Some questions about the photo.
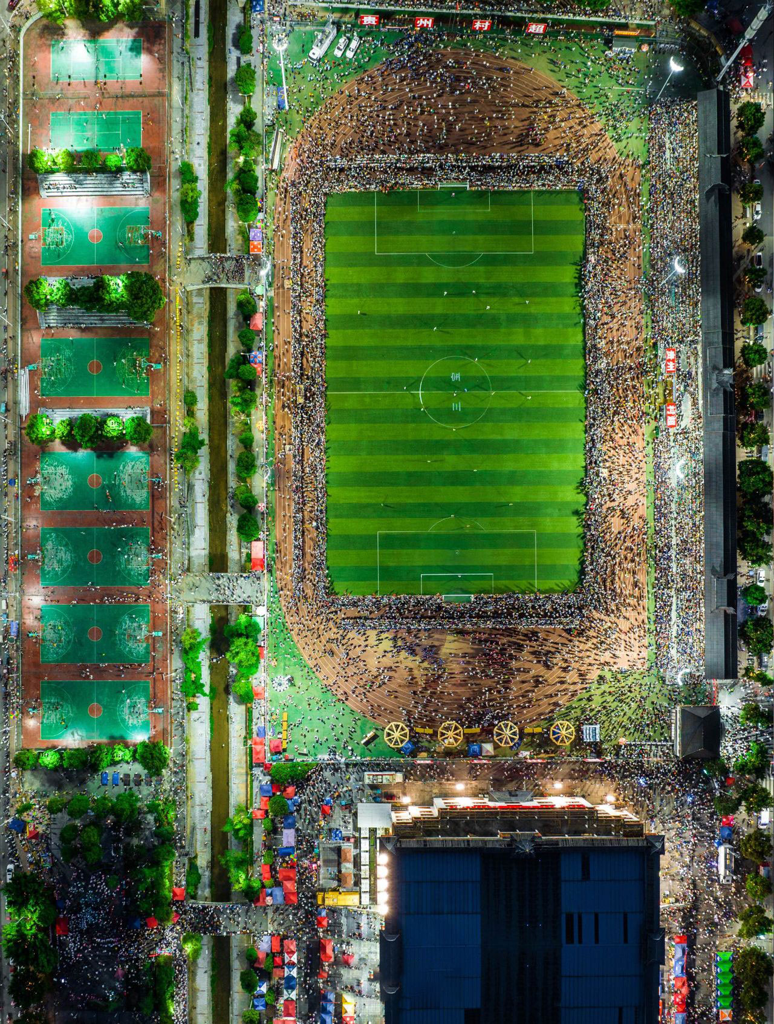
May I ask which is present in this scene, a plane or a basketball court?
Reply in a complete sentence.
The one in the frame is a basketball court.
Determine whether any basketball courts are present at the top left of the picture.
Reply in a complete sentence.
Yes, the scene does show a basketball court at the top left of the picture.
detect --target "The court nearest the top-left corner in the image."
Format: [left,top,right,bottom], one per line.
[50,33,142,83]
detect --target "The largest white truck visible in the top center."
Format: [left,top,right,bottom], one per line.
[308,9,339,65]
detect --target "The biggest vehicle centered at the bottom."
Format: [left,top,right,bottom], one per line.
[317,892,359,909]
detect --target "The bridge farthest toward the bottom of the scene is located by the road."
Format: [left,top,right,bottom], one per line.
[184,902,245,937]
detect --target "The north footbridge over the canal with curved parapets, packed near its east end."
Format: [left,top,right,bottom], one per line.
[184,254,245,290]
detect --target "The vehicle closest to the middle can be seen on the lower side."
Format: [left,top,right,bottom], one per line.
[360,733,379,751]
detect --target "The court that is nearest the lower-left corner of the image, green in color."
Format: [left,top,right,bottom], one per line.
[40,680,150,739]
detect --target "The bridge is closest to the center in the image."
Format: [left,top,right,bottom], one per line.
[184,572,245,604]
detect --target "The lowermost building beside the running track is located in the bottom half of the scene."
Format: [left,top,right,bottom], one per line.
[379,798,665,1024]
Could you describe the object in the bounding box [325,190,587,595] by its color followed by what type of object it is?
green soccer field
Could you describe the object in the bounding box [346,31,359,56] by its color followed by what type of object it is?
white vehicle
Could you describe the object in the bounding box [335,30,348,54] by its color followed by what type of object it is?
white vehicle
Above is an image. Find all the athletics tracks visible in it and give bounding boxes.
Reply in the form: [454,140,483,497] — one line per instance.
[275,50,647,728]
